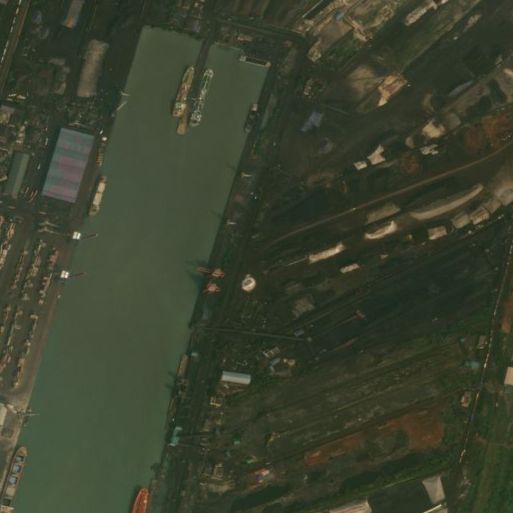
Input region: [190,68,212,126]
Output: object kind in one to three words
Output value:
ship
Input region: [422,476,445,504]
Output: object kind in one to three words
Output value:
building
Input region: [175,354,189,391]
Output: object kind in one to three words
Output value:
ship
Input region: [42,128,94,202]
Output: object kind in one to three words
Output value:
building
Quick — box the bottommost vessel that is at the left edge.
[1,447,27,513]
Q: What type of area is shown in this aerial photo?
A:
port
